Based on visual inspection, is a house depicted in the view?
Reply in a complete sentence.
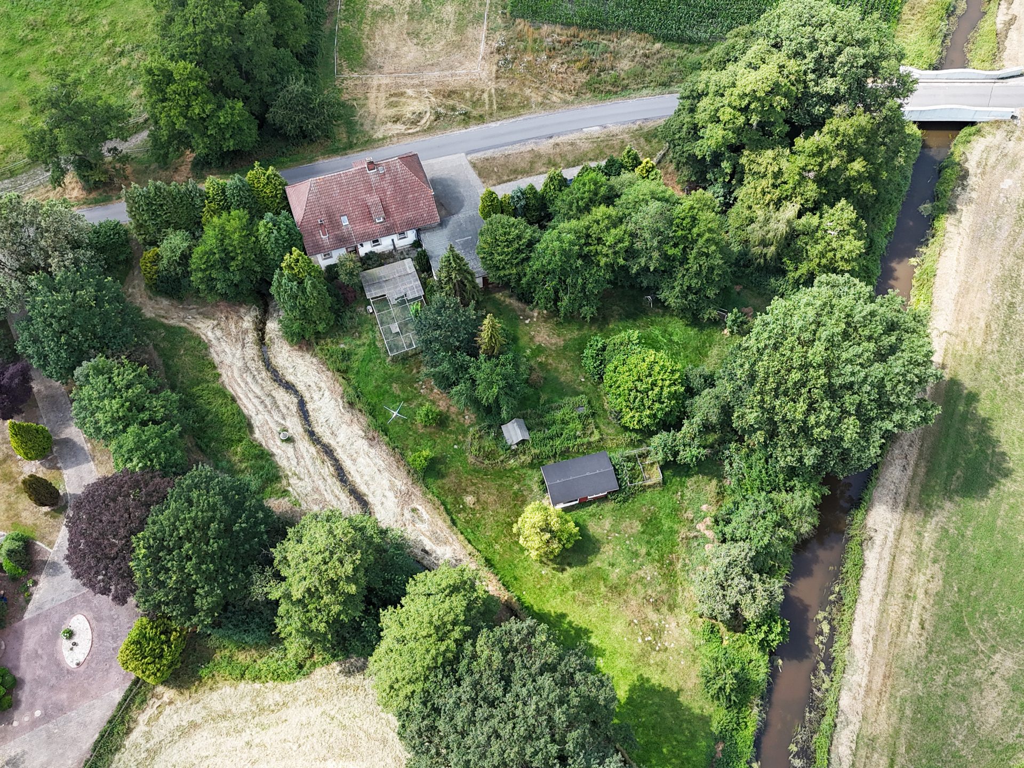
Yes, there's a house here.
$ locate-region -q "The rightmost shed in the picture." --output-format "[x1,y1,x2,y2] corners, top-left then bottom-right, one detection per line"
[541,451,619,510]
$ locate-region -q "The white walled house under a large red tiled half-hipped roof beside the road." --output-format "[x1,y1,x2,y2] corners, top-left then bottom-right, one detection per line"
[286,152,440,267]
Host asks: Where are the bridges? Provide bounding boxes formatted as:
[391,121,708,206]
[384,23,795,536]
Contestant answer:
[901,61,1024,121]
